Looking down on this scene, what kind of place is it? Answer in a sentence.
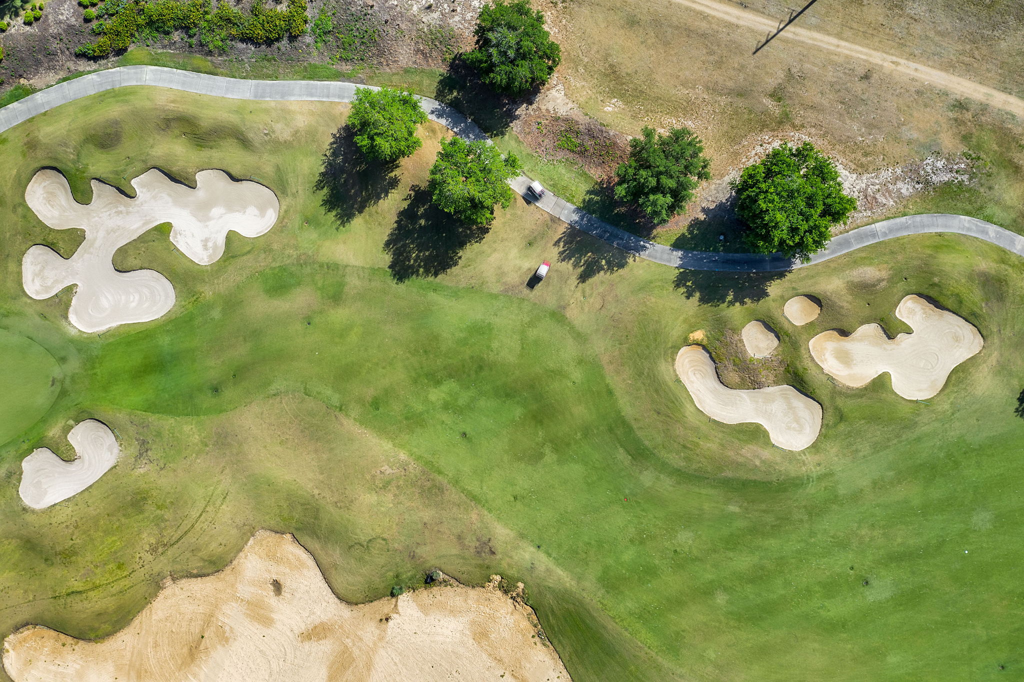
This looks like a golf course.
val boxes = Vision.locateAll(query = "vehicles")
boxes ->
[536,258,551,278]
[529,179,546,198]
